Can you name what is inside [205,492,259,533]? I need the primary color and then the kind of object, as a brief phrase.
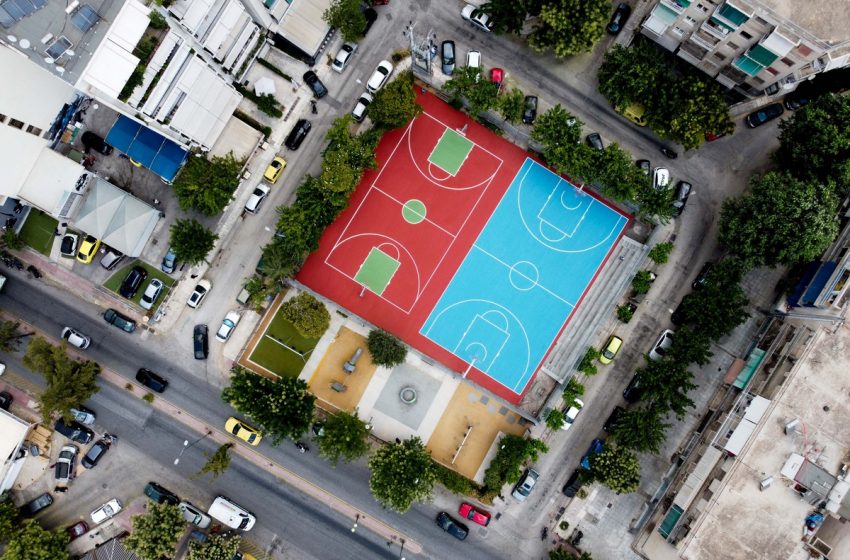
white van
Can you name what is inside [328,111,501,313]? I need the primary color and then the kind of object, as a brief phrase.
red basketball court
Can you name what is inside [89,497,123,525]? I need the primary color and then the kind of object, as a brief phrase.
white car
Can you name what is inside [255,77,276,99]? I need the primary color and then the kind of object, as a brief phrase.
white umbrella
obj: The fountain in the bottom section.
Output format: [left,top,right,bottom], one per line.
[399,386,417,404]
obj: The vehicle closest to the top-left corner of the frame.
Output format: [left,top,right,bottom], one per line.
[77,129,113,155]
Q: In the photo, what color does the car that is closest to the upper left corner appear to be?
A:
black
